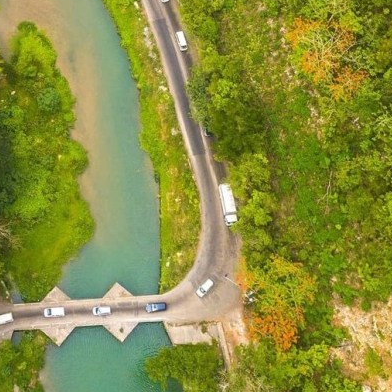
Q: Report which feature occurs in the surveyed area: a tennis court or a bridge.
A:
bridge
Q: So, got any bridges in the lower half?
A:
Yes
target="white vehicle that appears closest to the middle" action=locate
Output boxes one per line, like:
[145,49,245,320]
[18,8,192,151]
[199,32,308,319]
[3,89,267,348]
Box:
[219,183,238,225]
